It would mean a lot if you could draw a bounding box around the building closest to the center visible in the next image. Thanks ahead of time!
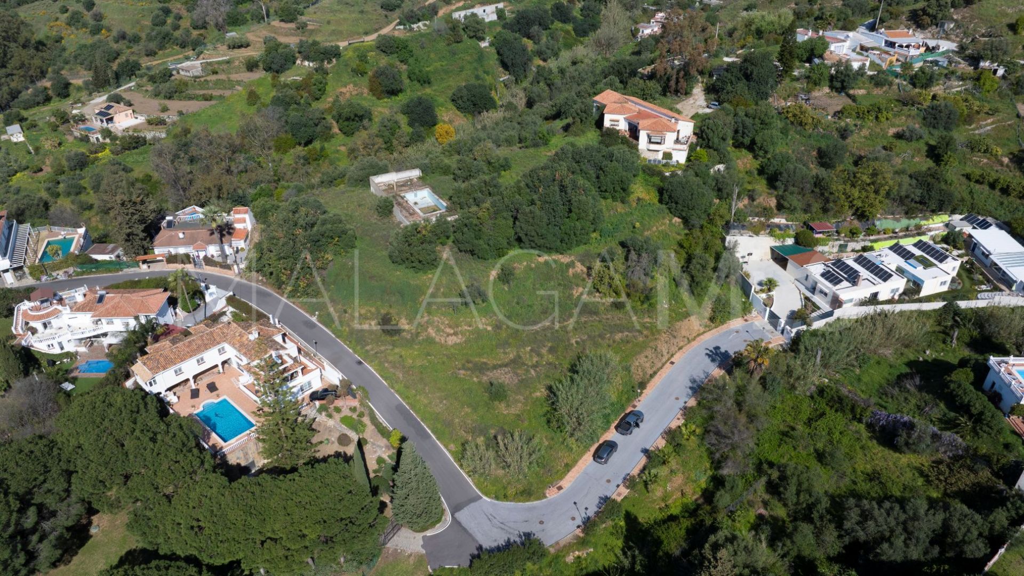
[370,174,423,200]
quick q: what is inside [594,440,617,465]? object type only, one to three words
car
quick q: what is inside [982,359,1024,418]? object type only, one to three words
building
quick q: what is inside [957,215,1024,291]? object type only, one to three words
house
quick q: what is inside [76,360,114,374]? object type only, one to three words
swimming pool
